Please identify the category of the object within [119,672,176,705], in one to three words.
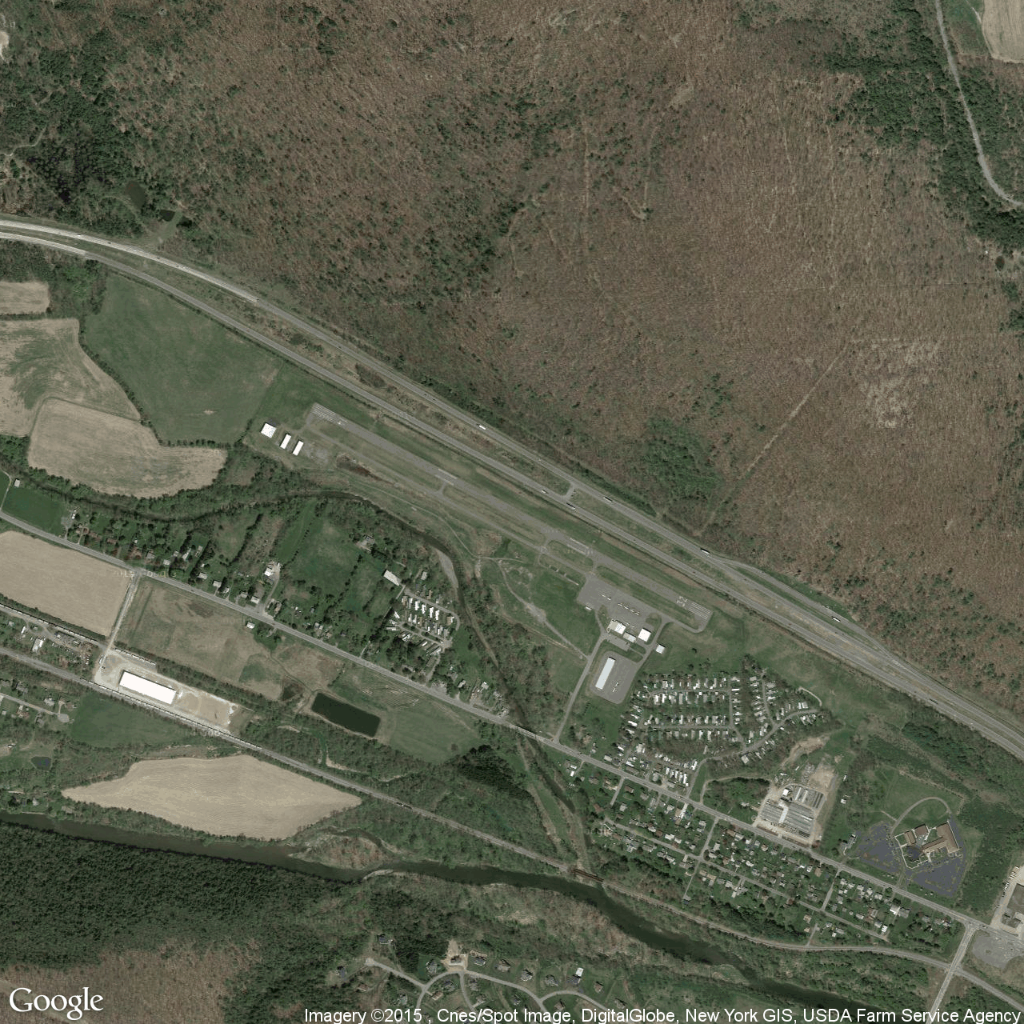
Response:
building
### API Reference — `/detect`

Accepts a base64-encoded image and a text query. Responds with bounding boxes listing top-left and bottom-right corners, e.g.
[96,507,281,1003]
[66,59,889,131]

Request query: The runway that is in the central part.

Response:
[311,402,712,621]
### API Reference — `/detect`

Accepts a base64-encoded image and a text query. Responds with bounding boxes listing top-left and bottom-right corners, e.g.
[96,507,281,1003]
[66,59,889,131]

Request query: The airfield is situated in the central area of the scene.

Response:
[267,402,712,703]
